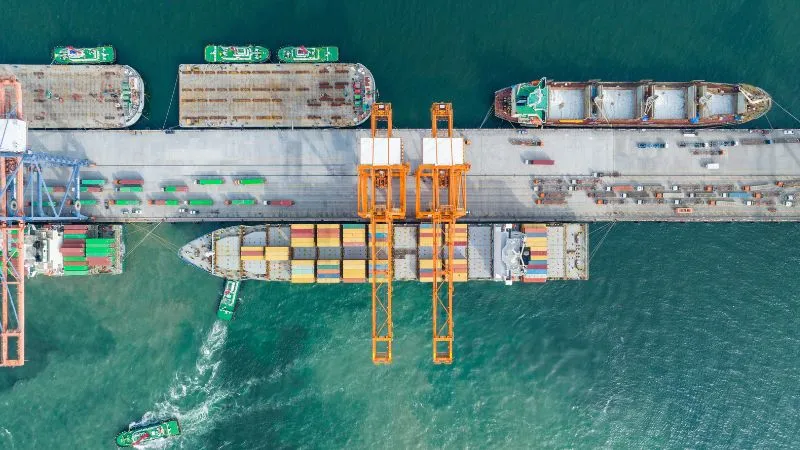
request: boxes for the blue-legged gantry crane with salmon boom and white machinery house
[0,77,94,367]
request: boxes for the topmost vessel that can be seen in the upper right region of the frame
[495,77,773,128]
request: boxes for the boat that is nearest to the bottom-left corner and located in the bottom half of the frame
[113,417,182,447]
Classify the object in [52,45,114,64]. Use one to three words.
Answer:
boat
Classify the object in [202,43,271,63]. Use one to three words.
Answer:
boat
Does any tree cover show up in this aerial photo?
No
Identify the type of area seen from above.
port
